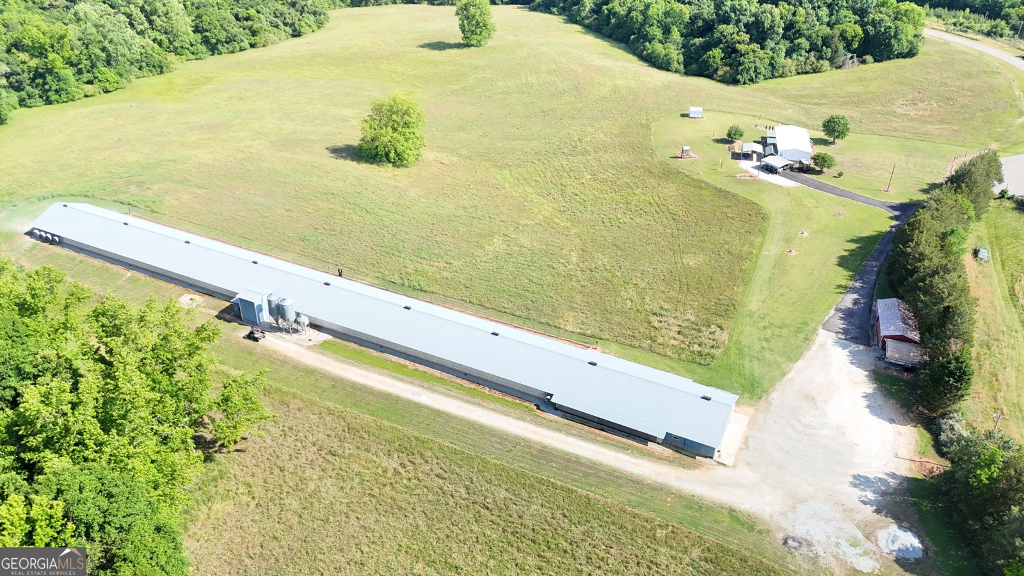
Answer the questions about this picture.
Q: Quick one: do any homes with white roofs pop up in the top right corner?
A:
Yes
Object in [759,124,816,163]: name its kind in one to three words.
house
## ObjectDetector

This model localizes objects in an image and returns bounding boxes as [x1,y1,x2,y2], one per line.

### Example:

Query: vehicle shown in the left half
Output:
[246,326,265,339]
